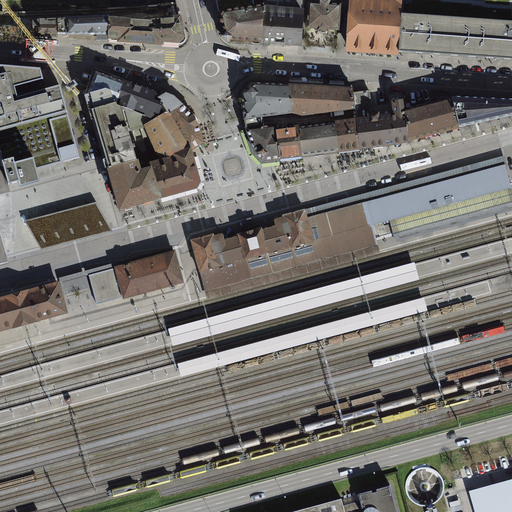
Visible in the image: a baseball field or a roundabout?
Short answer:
roundabout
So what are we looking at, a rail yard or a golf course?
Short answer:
rail yard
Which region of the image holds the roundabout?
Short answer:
top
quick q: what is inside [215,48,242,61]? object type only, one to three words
vehicle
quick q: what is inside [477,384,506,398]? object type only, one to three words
rail car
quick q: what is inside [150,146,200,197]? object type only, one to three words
house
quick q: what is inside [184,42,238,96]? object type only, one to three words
roundabout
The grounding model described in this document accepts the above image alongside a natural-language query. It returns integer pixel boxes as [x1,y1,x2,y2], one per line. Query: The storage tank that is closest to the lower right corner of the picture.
[405,464,444,510]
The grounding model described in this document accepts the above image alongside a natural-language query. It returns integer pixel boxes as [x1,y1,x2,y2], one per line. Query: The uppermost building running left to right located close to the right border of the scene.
[400,12,512,58]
